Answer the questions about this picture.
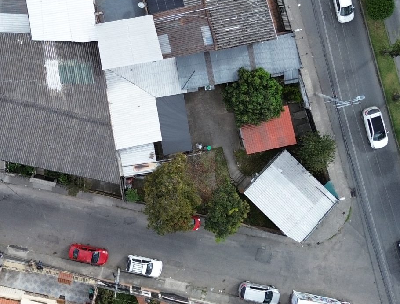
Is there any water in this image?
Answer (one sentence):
No, the scene doesn't show any water.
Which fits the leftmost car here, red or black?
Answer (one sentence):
The leftmost car looks red in the image.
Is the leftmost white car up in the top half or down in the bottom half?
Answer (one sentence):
The bottom half of the photo is where the leftmost white car is.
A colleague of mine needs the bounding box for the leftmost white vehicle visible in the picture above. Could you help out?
[120,251,167,279]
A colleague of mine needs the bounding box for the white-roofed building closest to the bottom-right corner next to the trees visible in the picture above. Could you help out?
[244,150,340,242]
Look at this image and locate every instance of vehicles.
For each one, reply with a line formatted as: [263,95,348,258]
[332,0,355,29]
[358,102,389,153]
[120,251,167,279]
[279,287,348,304]
[179,211,207,232]
[65,242,111,268]
[235,280,282,304]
